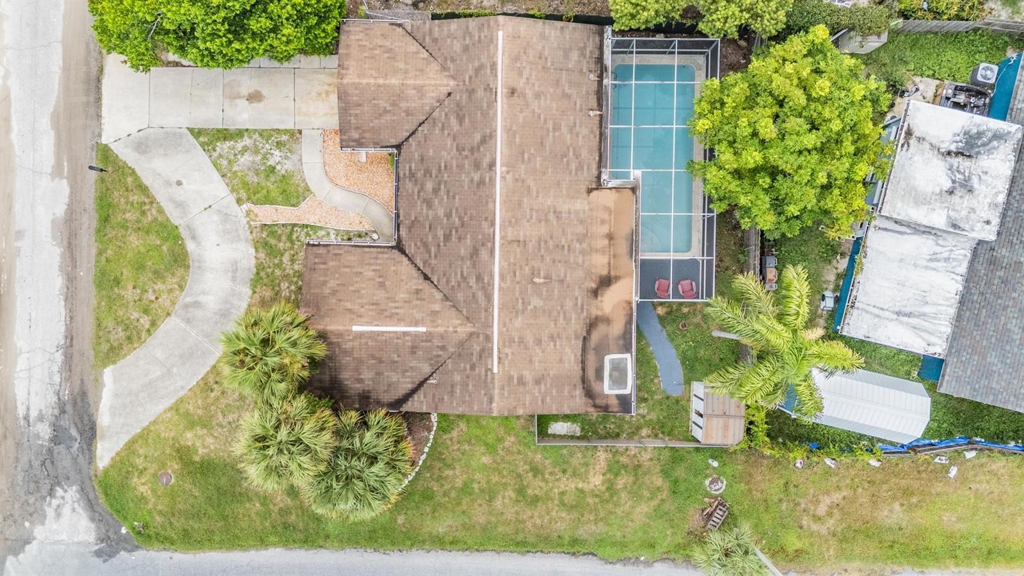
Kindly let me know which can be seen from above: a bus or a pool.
pool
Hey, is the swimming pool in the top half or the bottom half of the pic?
top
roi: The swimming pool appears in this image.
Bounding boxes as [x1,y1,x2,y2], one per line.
[609,60,698,256]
